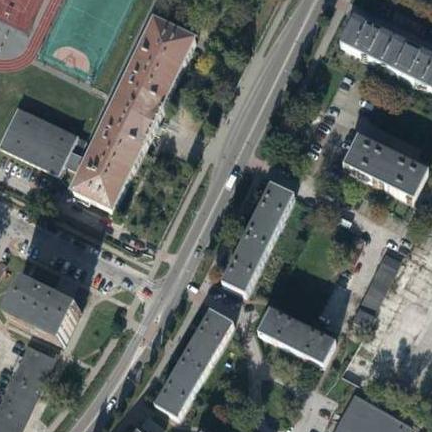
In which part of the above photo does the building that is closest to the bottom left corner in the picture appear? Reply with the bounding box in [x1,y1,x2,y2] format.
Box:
[0,345,57,432]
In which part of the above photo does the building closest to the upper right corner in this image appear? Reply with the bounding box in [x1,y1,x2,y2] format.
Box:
[338,13,432,98]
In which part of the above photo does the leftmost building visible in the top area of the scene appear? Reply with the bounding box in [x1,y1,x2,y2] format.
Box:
[0,107,85,178]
